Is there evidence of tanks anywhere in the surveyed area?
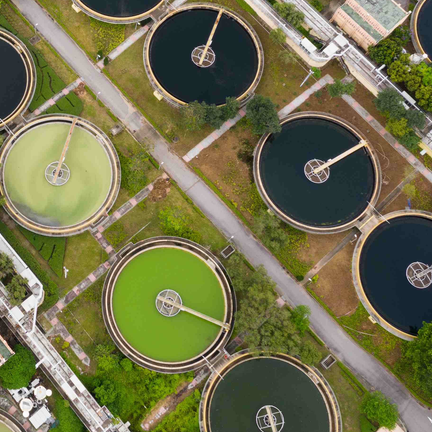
Yes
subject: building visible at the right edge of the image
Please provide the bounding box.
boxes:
[332,0,411,54]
